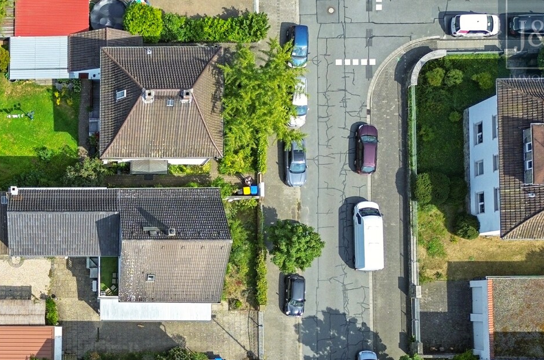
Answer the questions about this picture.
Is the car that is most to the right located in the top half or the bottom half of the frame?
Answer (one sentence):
The car that is most to the right is in the top half of the image.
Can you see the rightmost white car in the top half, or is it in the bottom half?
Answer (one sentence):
Seen from above, the rightmost white car lies in the top half of the view.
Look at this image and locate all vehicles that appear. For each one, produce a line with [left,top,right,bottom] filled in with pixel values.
[286,23,310,71]
[286,79,313,126]
[353,124,380,175]
[282,272,308,317]
[448,12,496,39]
[283,137,309,189]
[350,203,383,269]
[505,15,544,39]
[354,348,379,360]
